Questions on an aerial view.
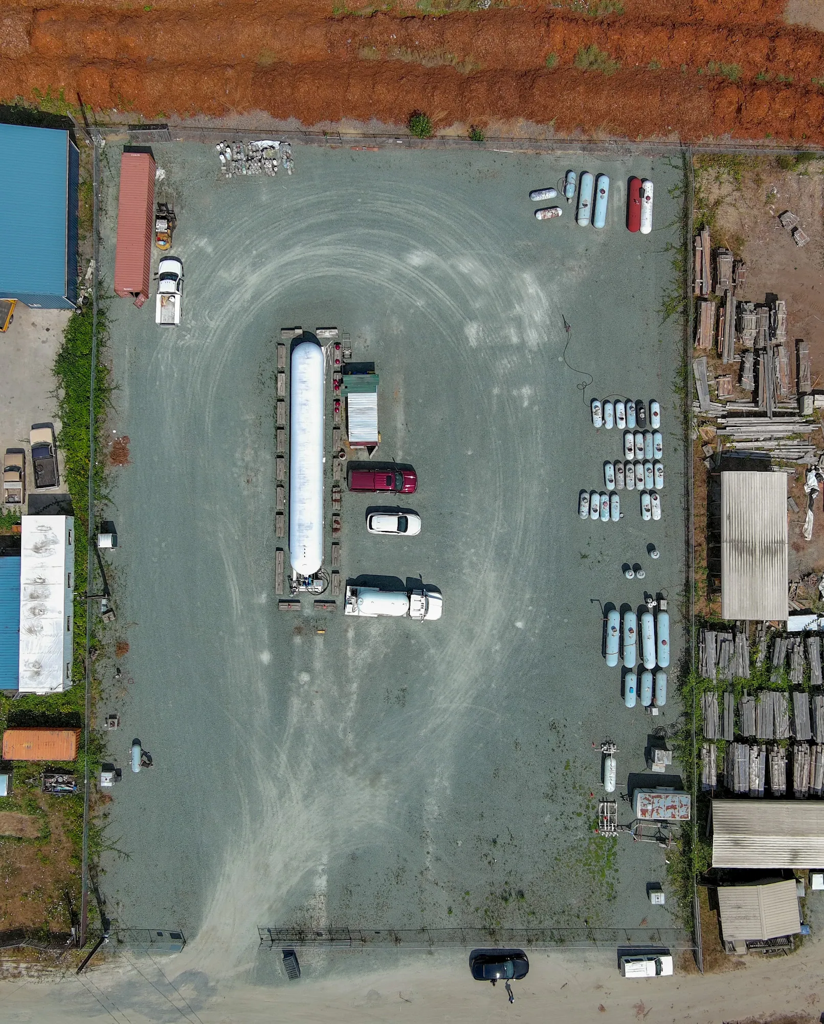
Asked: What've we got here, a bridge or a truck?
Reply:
truck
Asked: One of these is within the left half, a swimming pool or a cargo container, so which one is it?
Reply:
cargo container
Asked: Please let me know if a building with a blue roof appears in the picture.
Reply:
Yes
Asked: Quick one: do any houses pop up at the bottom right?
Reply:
Yes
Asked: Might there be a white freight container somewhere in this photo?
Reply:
No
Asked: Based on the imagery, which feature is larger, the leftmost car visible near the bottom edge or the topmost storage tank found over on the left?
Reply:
the storage tank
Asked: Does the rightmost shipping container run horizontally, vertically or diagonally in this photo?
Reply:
vertically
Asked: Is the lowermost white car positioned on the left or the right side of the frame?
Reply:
right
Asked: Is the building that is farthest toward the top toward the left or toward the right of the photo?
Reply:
left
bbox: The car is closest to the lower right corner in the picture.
[619,952,672,981]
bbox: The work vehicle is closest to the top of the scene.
[155,207,173,252]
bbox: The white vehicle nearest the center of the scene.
[367,510,422,538]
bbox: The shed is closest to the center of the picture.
[341,374,378,451]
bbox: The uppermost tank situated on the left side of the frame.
[291,342,329,598]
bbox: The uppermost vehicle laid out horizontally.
[343,460,417,496]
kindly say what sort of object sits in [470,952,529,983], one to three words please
car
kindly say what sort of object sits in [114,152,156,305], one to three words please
shipping container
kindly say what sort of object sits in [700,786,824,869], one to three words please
shed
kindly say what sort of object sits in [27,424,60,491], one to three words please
truck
